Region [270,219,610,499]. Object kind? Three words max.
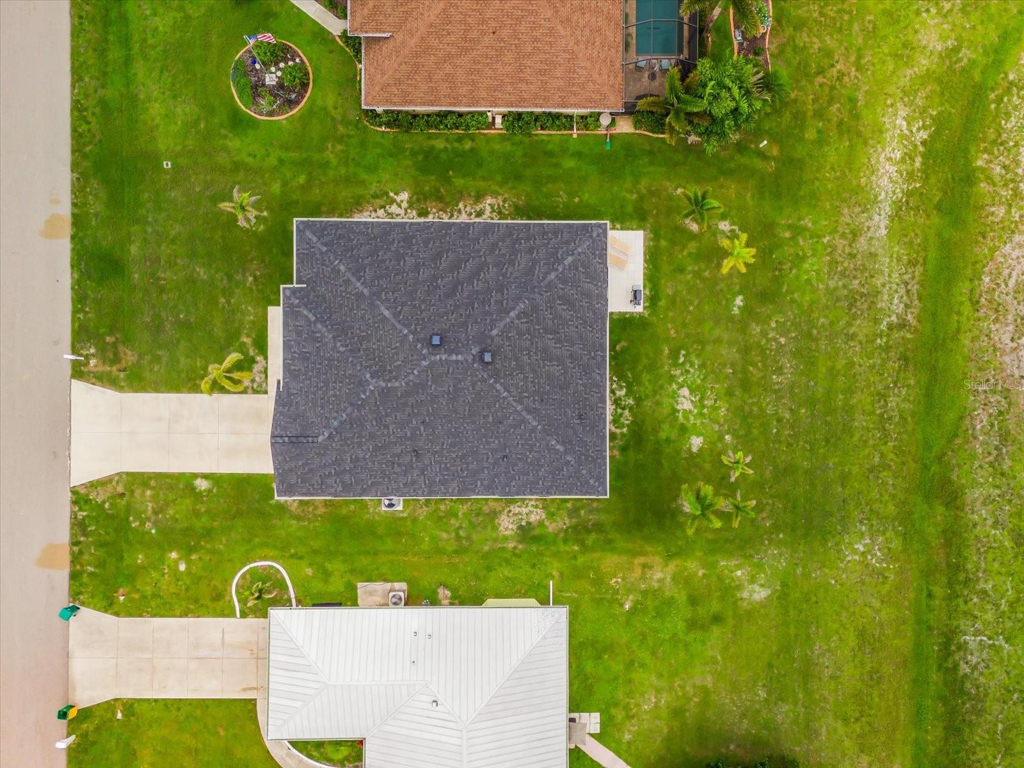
house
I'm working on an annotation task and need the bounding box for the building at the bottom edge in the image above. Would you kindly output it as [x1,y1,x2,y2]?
[267,598,570,768]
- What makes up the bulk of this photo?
grass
